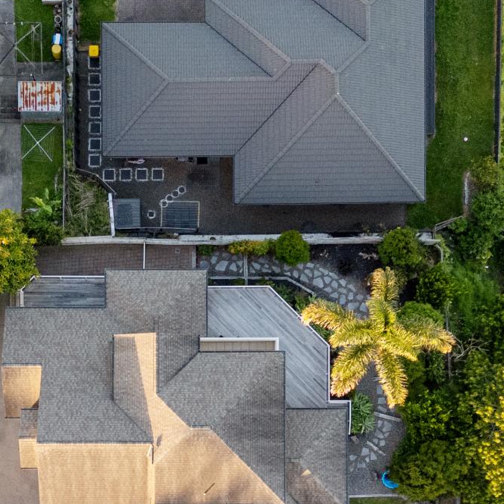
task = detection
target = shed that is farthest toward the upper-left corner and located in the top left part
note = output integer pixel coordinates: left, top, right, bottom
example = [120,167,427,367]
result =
[18,82,65,123]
